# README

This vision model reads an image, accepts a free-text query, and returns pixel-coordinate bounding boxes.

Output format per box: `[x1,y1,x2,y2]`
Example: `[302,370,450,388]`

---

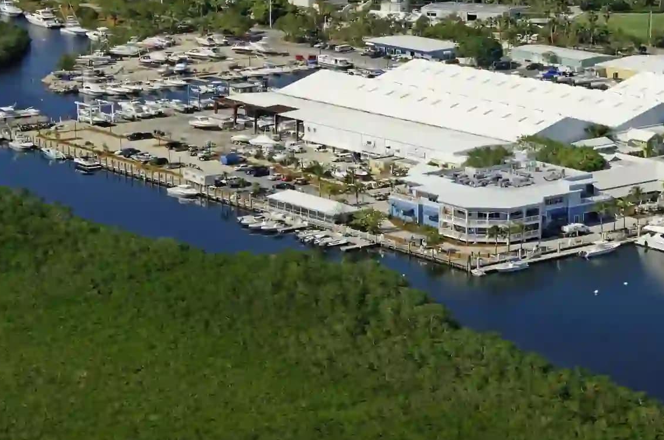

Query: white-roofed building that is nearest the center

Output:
[256,187,363,228]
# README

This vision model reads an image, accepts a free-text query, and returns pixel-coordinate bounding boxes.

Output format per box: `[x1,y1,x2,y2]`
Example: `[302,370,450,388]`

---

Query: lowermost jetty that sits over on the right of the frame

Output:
[473,252,599,280]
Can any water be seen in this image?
Yes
